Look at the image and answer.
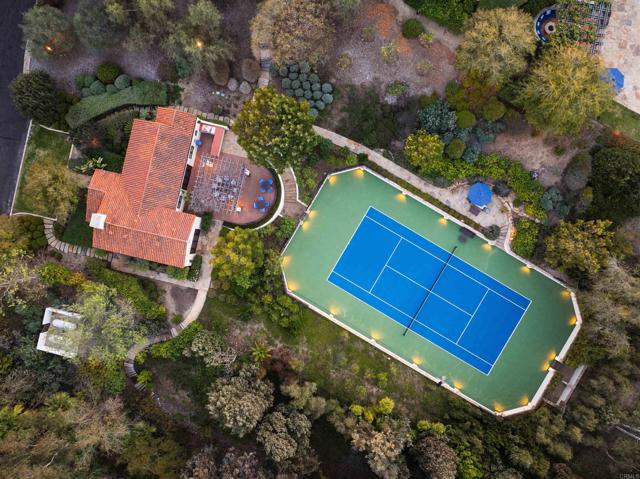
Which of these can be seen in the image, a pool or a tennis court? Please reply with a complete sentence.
The image shows a tennis court.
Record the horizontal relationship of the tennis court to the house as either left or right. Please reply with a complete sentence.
The house has the tennis court on its right side.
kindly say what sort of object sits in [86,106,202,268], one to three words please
house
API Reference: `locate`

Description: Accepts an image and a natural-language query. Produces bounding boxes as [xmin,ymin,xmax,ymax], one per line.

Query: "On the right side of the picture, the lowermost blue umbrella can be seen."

[466,181,492,207]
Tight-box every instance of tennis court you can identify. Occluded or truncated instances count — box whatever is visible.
[283,168,577,411]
